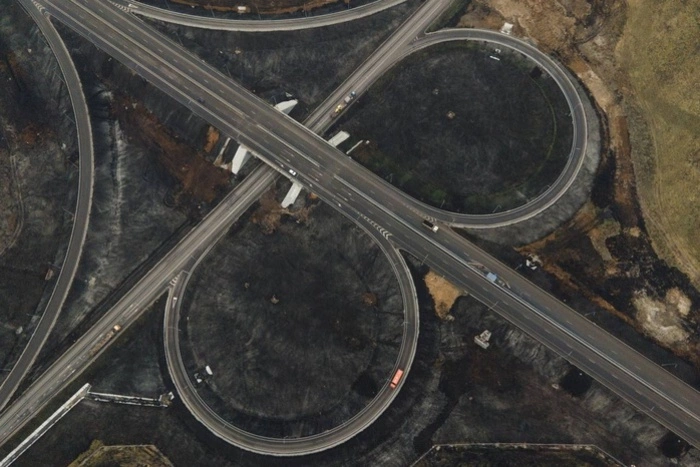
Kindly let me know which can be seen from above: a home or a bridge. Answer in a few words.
bridge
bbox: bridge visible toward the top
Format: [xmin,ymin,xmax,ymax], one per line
[232,99,350,208]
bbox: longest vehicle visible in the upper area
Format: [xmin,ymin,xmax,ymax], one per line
[329,90,357,118]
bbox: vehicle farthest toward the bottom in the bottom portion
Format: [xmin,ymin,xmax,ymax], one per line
[390,369,404,389]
